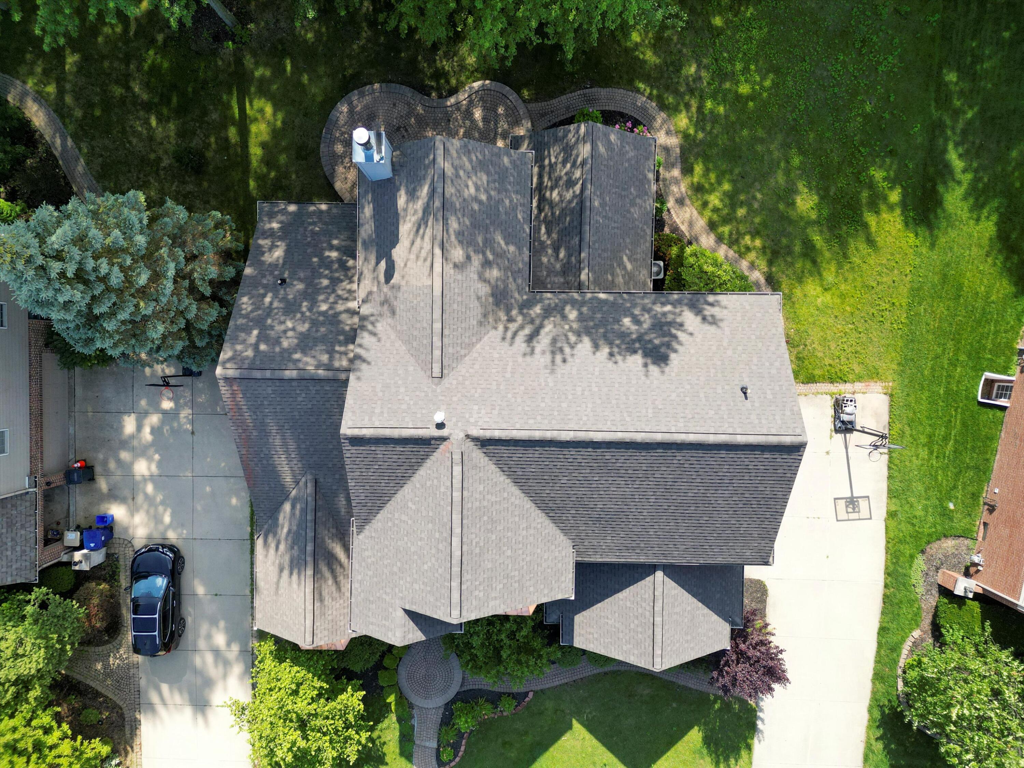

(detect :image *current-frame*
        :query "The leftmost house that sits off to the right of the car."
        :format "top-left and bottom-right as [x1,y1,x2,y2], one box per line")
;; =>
[217,122,809,673]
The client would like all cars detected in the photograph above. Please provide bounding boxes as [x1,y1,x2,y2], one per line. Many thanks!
[125,542,185,654]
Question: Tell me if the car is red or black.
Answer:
black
